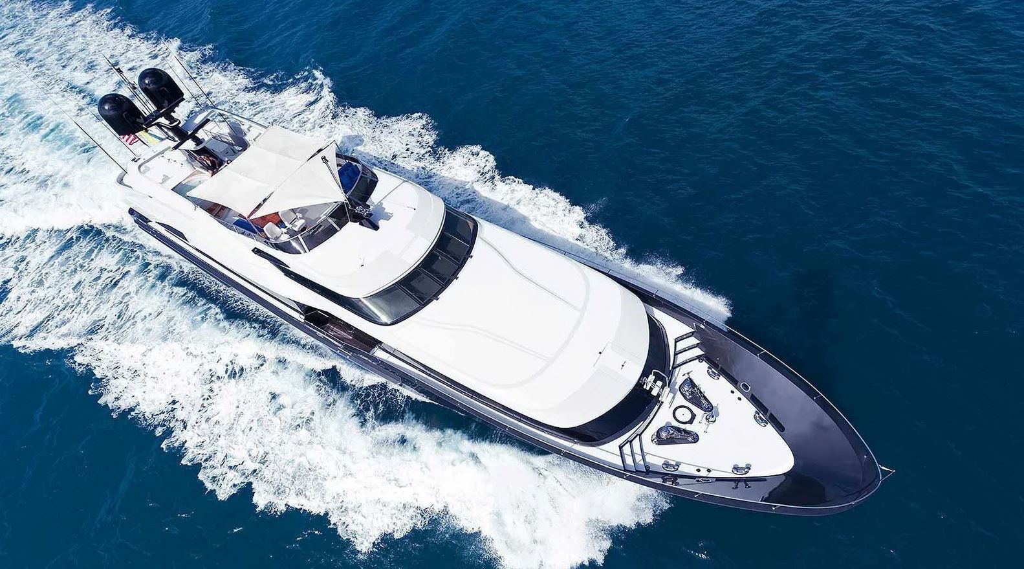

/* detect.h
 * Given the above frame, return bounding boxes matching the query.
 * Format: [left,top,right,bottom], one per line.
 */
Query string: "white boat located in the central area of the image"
[47,21,895,515]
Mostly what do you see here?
water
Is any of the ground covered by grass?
No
